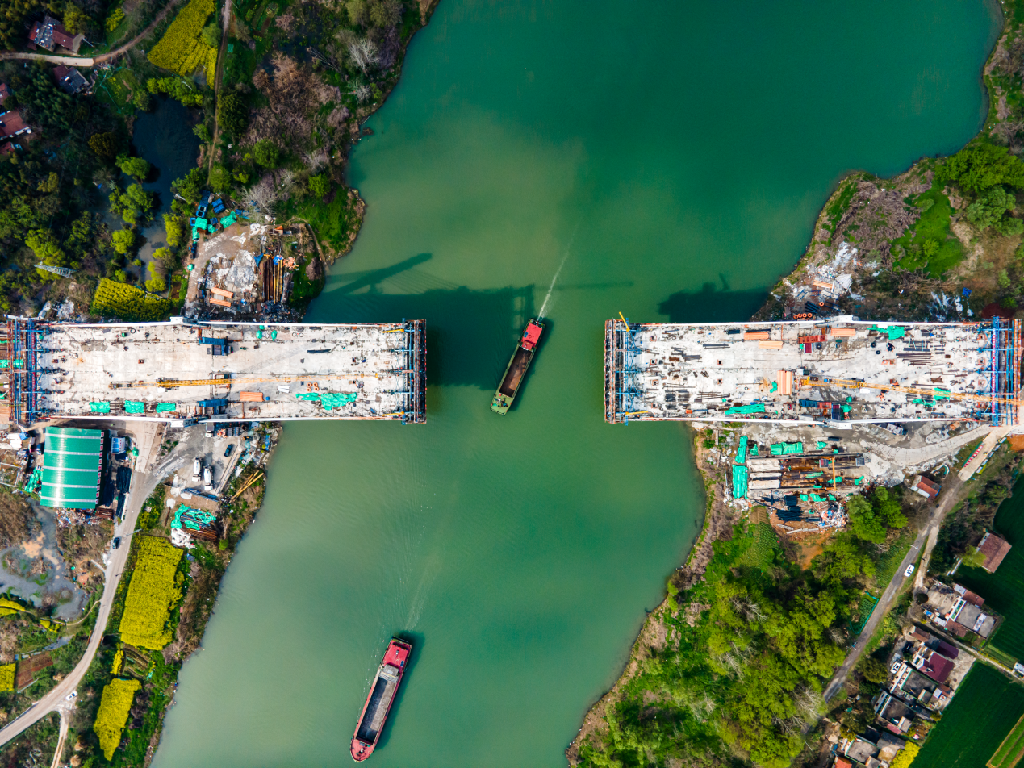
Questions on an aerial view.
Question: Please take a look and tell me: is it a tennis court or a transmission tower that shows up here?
transmission tower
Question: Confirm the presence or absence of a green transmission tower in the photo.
No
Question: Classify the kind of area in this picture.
port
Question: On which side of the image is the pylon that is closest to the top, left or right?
left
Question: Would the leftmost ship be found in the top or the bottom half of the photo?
bottom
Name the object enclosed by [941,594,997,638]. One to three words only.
house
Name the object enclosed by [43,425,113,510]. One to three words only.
shed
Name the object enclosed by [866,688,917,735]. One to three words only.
house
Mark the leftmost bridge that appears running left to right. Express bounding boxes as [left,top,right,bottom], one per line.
[31,319,410,431]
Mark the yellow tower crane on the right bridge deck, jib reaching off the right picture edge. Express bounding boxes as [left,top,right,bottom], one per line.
[791,371,1024,399]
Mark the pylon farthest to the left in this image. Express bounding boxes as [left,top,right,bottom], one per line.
[30,258,79,283]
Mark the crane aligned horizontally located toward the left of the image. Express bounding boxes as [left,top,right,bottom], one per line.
[104,370,378,391]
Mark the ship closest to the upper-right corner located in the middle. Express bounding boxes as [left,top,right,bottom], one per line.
[491,319,544,415]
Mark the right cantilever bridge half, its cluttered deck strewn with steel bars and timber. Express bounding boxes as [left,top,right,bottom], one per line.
[620,319,997,424]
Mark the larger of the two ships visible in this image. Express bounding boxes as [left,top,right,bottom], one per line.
[351,637,411,765]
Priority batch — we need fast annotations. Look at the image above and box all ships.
[491,319,544,415]
[351,637,411,765]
